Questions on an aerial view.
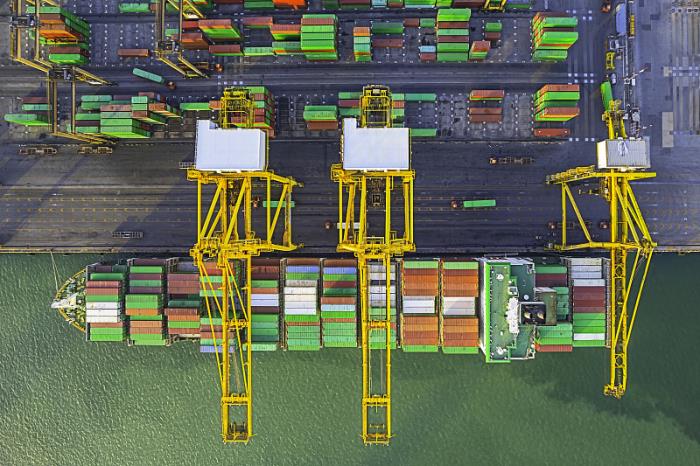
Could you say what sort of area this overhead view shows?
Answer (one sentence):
The area seen from above is a port.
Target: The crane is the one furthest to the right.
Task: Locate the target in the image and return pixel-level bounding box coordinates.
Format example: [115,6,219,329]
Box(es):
[538,105,657,401]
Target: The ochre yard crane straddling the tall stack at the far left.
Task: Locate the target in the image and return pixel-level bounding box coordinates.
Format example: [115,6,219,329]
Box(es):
[12,0,88,82]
